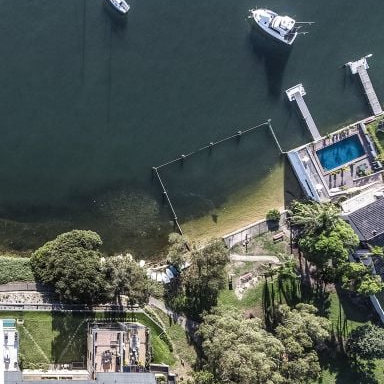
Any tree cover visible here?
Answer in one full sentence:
Yes, tree cover can be seen from above here.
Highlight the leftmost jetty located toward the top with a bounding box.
[285,81,323,140]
